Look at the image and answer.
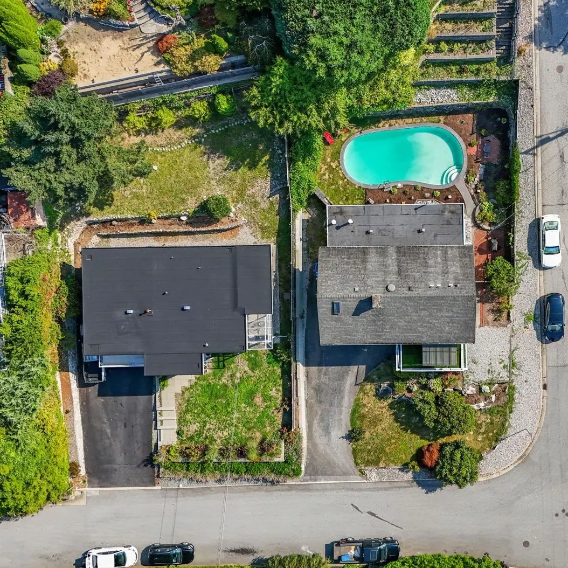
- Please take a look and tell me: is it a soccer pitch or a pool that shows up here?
pool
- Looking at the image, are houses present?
Yes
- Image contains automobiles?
Yes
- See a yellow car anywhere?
No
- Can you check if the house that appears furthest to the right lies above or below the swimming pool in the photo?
below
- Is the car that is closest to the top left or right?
right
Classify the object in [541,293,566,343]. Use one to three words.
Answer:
car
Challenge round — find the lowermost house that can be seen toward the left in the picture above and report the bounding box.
[83,245,277,376]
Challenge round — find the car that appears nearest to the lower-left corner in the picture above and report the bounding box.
[87,543,139,568]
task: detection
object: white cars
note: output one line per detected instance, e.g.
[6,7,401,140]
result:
[539,213,564,269]
[87,543,139,568]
